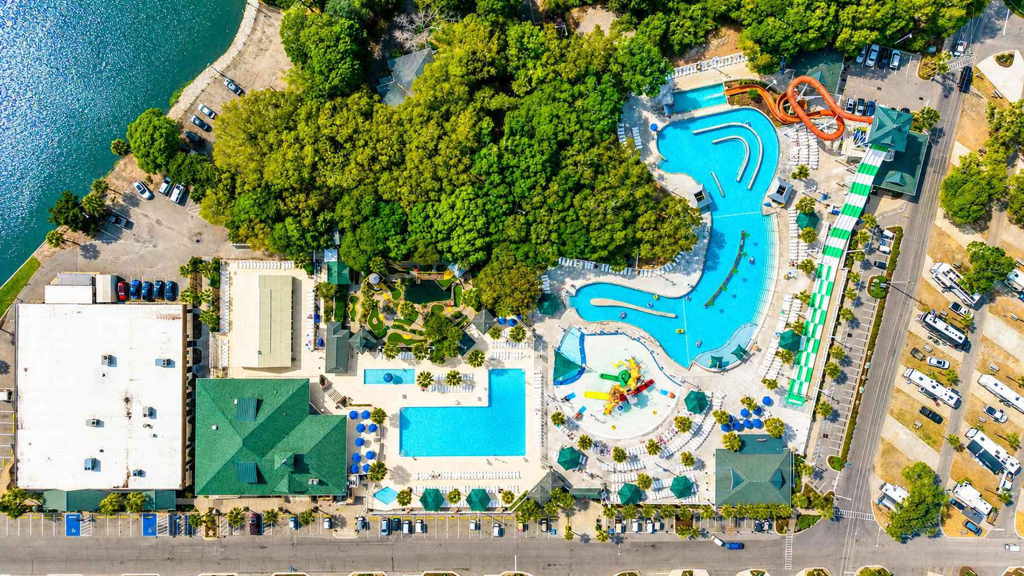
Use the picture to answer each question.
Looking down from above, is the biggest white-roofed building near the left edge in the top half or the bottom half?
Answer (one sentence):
The bottom half of the photo is where the biggest white-roofed building near the left edge is.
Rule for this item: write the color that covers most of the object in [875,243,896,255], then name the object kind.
white vehicle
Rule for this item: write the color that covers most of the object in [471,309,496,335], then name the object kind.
gray gazebo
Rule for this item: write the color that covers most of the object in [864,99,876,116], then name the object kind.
blue vehicle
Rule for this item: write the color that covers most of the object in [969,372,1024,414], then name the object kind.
white camper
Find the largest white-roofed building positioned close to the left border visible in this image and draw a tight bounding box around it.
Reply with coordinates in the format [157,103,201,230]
[16,304,198,515]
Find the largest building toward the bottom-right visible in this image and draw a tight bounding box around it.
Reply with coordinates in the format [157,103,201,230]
[714,448,791,506]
